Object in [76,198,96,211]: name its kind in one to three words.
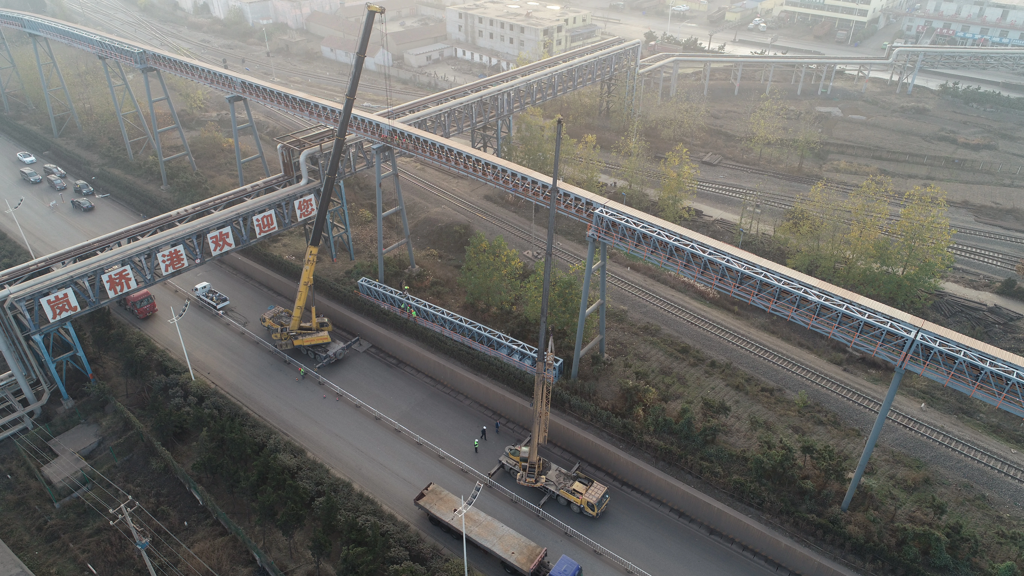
vehicle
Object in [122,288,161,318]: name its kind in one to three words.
truck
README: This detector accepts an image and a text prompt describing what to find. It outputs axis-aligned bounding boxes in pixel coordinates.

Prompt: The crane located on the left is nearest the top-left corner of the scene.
[254,0,414,372]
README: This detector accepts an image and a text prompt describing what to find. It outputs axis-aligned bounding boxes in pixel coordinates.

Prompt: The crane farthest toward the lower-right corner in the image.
[488,99,616,520]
